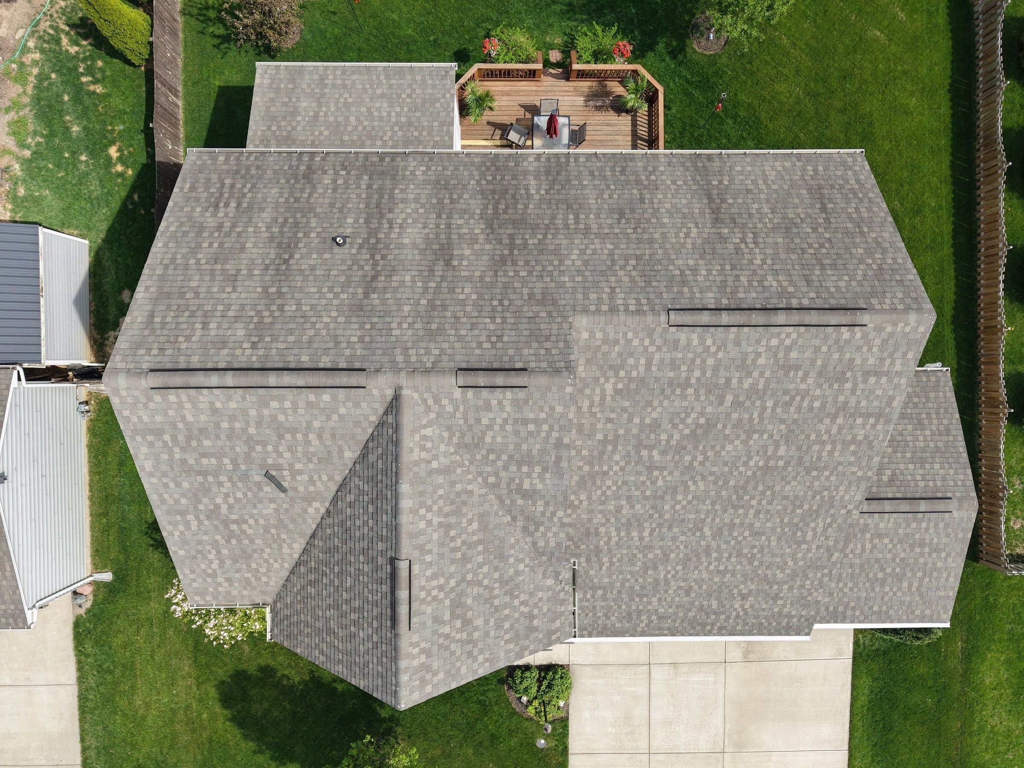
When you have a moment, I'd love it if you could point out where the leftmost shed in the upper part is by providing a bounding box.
[0,219,89,369]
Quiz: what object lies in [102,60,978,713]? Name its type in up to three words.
house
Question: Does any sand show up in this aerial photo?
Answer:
No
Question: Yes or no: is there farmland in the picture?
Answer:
No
